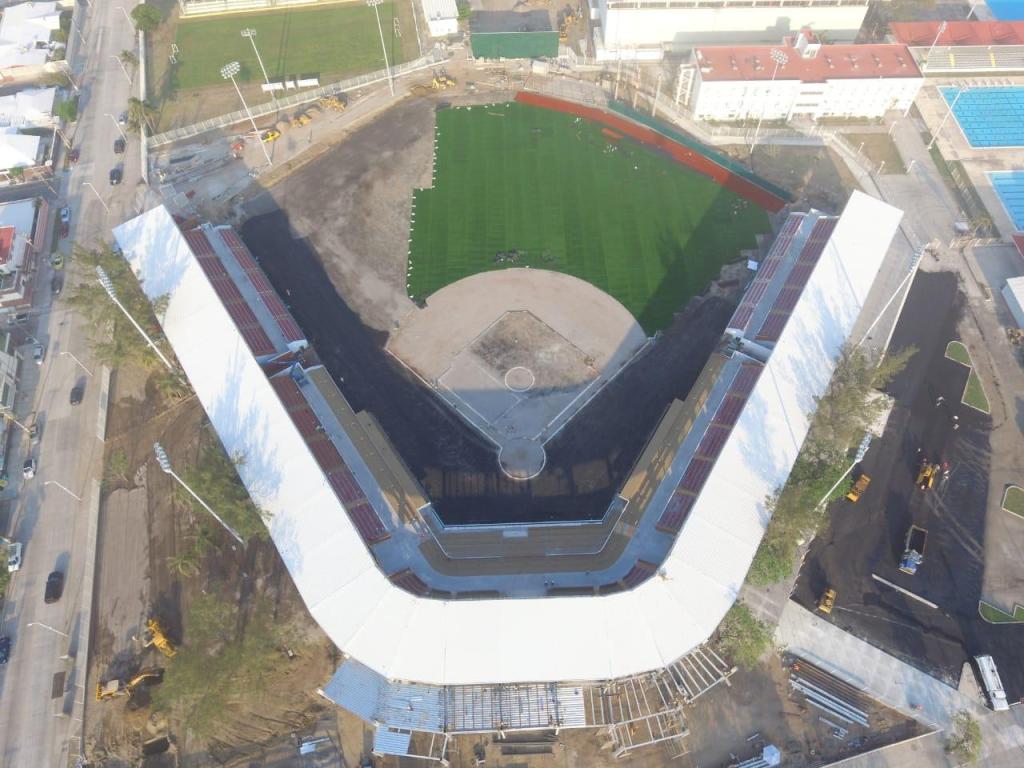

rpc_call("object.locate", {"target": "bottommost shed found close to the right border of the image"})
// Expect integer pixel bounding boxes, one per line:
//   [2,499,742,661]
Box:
[994,277,1024,338]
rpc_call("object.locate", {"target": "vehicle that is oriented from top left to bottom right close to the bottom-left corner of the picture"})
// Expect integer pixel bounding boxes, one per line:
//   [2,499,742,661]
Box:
[141,617,178,663]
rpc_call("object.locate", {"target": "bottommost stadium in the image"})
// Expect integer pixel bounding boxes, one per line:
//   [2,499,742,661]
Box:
[113,190,904,683]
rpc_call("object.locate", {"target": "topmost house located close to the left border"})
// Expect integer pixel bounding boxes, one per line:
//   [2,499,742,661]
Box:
[0,1,67,60]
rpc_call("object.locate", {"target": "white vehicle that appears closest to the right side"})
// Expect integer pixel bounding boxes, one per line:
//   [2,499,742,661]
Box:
[968,656,1008,712]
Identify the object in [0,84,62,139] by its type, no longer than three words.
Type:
house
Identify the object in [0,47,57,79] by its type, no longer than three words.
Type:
house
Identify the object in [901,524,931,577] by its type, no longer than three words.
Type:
truck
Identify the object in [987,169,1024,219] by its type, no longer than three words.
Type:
swimming pool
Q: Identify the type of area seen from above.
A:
sports ground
